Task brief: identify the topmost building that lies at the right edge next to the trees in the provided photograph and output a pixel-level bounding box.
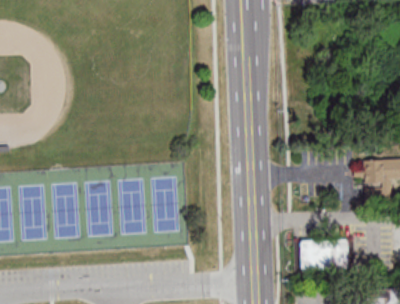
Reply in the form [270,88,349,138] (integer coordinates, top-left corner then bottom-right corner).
[350,160,400,198]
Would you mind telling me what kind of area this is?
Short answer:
sports ground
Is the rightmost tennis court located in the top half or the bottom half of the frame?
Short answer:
bottom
